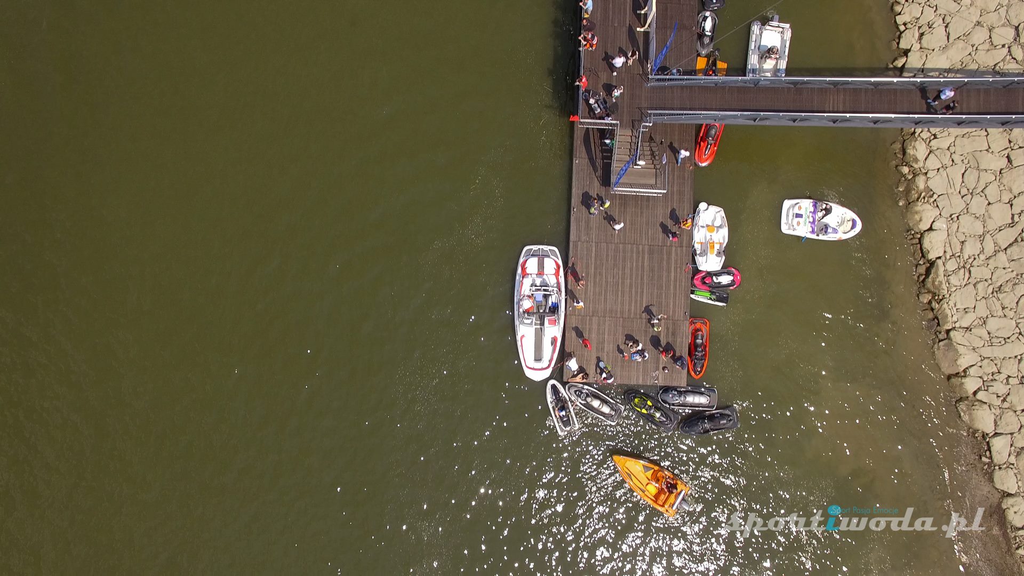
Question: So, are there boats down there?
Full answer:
Yes, a boat can be made out from above.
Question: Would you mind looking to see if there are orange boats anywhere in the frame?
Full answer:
Yes, the picture does show an orange boat.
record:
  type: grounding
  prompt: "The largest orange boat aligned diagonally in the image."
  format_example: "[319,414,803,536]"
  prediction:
[610,453,692,516]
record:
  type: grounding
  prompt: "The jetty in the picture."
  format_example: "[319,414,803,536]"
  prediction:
[564,0,697,385]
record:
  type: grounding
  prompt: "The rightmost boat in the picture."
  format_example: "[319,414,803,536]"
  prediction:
[776,200,862,242]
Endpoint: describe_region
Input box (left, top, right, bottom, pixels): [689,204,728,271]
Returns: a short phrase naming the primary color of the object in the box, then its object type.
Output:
white boat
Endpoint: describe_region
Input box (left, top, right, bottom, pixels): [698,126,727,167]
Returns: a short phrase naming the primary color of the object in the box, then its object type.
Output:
red boat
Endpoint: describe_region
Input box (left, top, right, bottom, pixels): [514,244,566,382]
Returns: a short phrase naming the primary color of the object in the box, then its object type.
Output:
white boat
